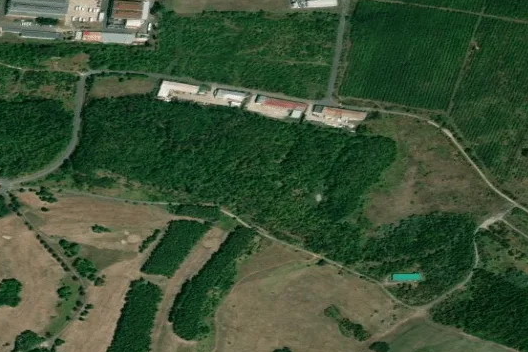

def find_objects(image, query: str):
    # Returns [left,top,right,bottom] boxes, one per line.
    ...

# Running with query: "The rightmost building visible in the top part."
[324,107,366,120]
